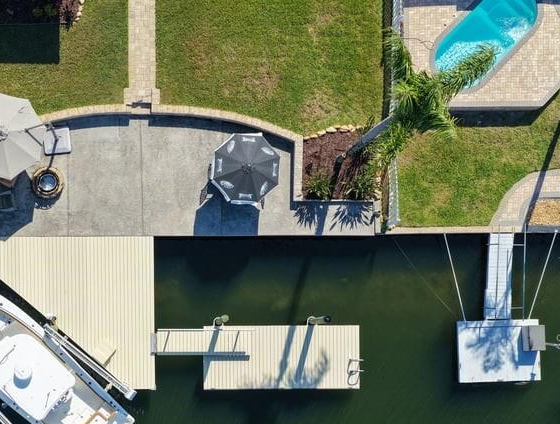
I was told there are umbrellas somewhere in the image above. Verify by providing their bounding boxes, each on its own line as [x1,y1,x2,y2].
[210,134,280,203]
[0,94,71,180]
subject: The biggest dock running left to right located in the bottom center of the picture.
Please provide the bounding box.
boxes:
[203,314,366,390]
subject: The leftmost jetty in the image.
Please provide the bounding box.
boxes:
[0,238,154,389]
